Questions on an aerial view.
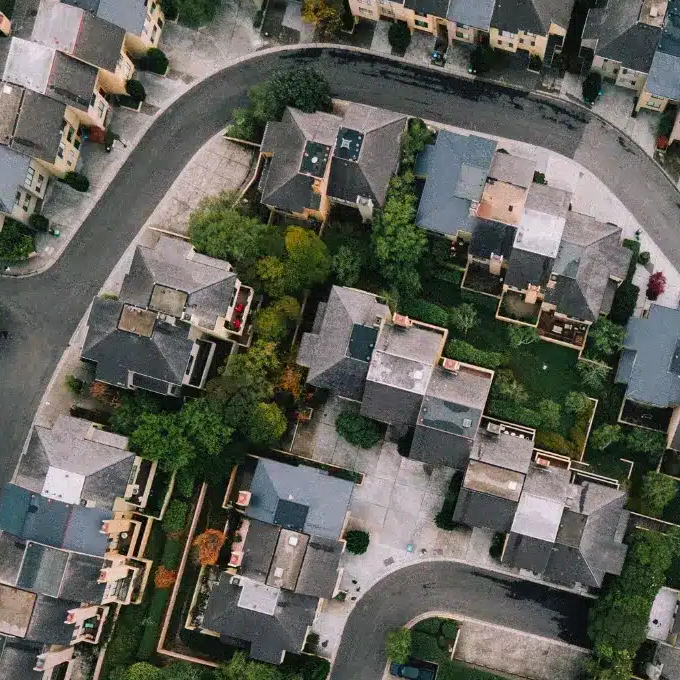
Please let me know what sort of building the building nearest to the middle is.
home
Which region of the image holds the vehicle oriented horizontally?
bottom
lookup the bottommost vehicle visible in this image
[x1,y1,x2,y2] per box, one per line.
[389,660,435,680]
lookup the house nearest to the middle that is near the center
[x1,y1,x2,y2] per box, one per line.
[295,285,393,403]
